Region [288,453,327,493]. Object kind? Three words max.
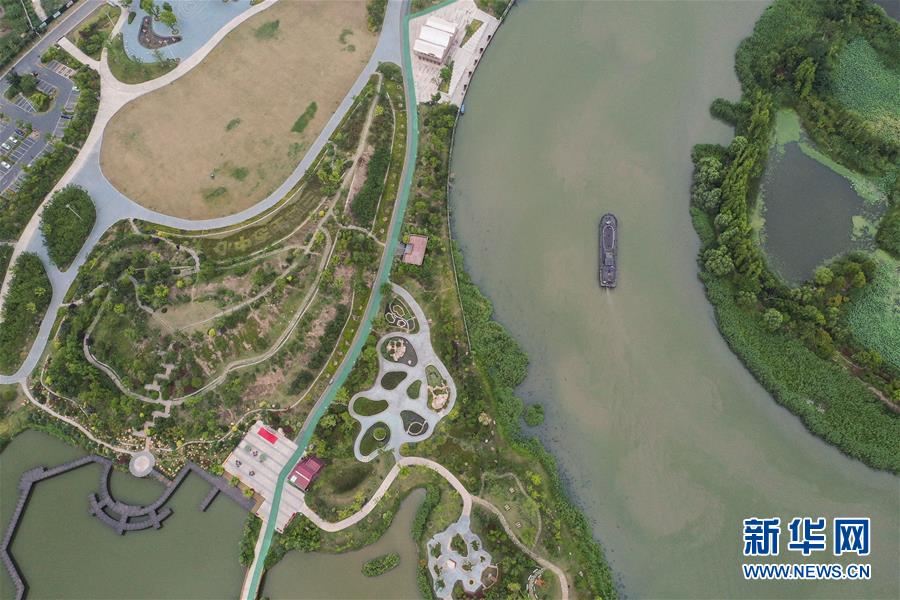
building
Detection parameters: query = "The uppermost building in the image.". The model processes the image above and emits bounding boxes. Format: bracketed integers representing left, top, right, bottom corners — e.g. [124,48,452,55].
[412,17,458,64]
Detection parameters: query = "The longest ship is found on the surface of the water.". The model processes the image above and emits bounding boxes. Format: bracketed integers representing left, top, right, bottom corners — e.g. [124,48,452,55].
[597,213,618,290]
